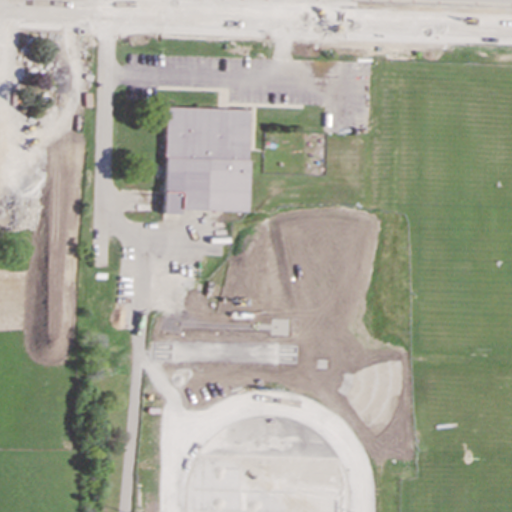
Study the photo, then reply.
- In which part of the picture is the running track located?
bottom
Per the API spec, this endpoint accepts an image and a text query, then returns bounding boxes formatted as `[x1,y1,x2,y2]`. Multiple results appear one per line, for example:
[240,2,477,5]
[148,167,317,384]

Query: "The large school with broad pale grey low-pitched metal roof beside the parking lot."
[162,106,252,213]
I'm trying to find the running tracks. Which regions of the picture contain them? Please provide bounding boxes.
[162,394,374,512]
